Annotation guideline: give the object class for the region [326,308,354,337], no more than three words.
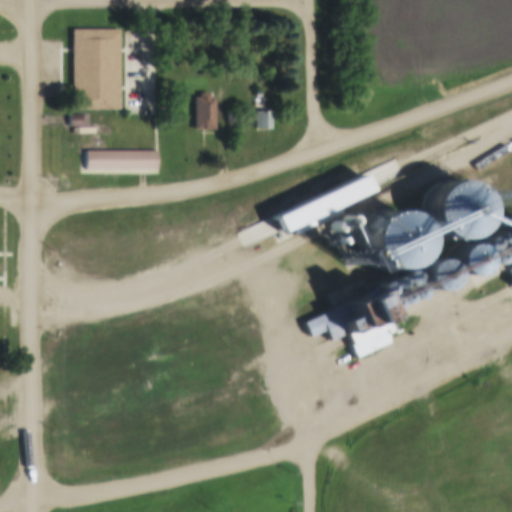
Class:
shed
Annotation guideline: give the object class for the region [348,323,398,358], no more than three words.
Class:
building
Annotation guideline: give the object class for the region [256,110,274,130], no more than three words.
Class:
building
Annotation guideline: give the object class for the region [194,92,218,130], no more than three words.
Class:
house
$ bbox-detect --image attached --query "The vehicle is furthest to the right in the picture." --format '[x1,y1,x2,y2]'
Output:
[474,138,512,168]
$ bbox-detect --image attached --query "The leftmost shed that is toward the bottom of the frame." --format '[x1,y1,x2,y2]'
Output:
[302,315,330,338]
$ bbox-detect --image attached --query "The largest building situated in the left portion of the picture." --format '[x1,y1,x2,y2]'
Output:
[73,29,123,110]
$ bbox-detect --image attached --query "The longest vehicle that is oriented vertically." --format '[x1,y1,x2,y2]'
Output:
[24,430,36,483]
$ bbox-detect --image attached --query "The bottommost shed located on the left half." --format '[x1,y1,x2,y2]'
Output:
[84,150,162,174]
